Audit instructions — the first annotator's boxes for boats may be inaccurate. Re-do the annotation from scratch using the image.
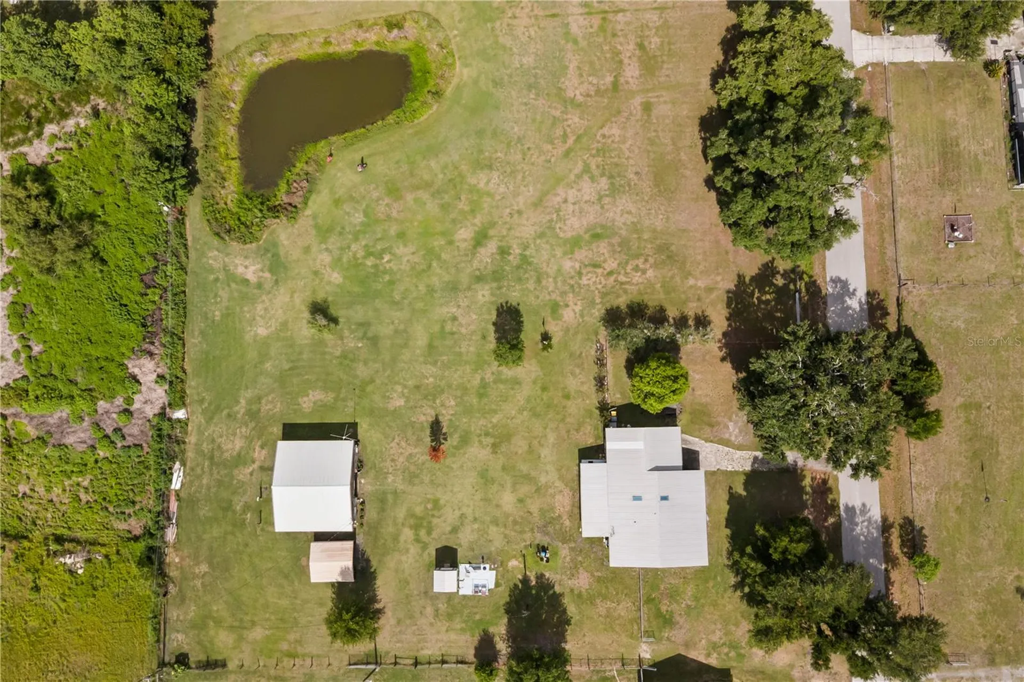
[171,465,185,491]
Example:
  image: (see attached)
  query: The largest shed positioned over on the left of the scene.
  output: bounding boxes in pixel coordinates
[272,440,357,532]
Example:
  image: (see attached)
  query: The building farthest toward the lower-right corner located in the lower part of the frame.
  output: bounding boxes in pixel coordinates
[579,426,709,571]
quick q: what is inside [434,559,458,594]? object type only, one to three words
shed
